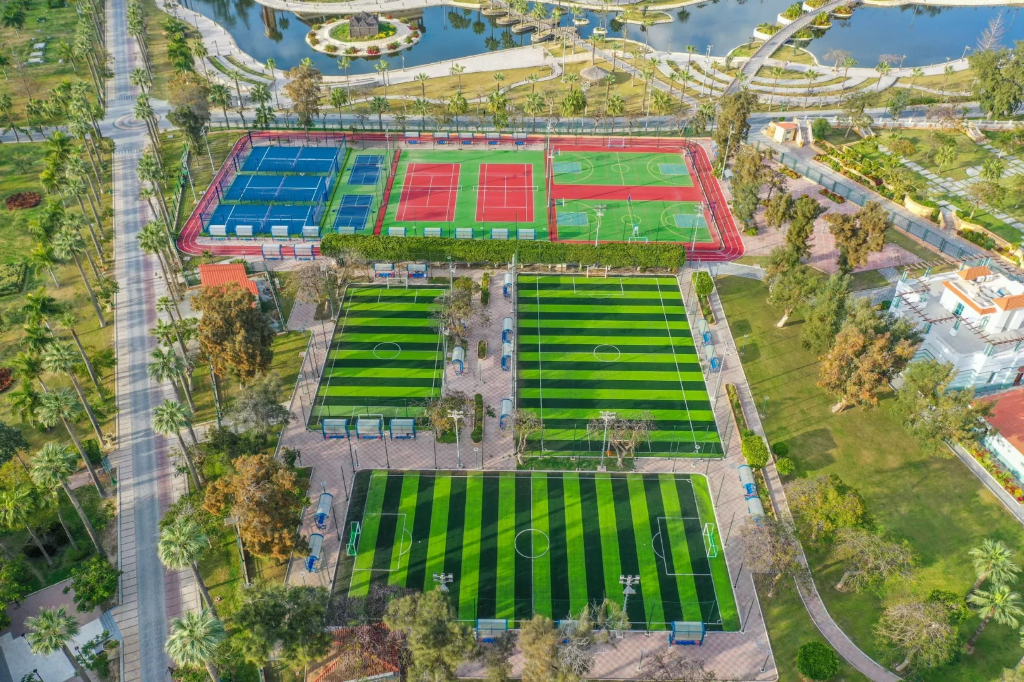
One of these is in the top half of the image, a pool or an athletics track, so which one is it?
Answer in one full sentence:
What appears in the top half of the image is an athletics track.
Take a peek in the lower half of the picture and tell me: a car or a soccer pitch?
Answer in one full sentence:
It is a soccer pitch that can be seen in the lower half of the picture.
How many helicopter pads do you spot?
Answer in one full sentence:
There are no helicopter pads in the image.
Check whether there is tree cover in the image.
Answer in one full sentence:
Yes, some tree cover is visible.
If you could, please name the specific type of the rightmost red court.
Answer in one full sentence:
The rightmost red court is a tennis court.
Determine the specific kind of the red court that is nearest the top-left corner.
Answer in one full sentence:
The red court that is nearest the top-left corner appears to be a tennis court.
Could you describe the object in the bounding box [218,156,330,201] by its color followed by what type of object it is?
blue sports court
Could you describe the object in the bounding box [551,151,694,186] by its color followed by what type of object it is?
green basketball court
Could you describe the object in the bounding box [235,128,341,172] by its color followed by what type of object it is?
blue sports court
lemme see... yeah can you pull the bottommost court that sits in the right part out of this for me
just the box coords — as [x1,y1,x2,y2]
[555,199,714,242]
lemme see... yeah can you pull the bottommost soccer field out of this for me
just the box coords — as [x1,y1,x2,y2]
[322,468,745,635]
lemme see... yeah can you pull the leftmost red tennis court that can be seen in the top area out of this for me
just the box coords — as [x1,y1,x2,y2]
[395,163,464,221]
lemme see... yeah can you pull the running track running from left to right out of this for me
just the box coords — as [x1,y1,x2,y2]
[173,131,745,262]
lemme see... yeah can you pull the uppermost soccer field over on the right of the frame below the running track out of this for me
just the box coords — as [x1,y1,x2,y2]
[515,272,726,459]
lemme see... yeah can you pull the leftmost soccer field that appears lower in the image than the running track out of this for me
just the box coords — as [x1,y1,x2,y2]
[305,282,454,434]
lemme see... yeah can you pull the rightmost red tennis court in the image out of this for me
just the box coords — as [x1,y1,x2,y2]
[471,163,540,222]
